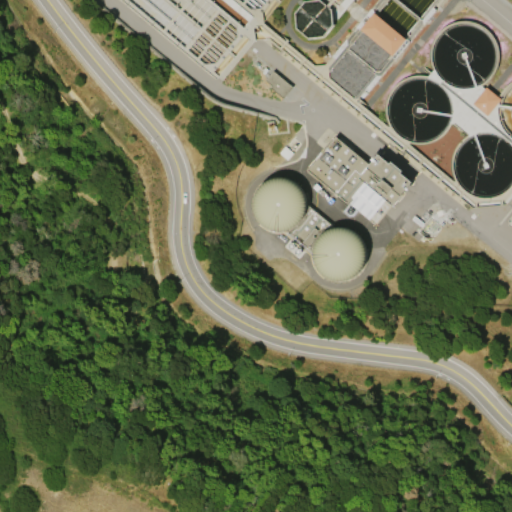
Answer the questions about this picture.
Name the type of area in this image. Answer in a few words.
industrial area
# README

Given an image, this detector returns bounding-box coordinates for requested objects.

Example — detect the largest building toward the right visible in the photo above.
[308,136,411,225]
